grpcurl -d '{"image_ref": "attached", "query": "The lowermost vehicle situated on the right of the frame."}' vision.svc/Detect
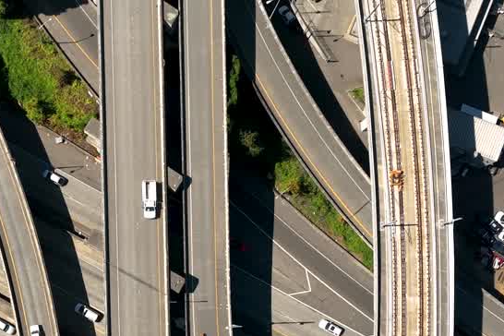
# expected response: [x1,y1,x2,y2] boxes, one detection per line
[317,319,343,336]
